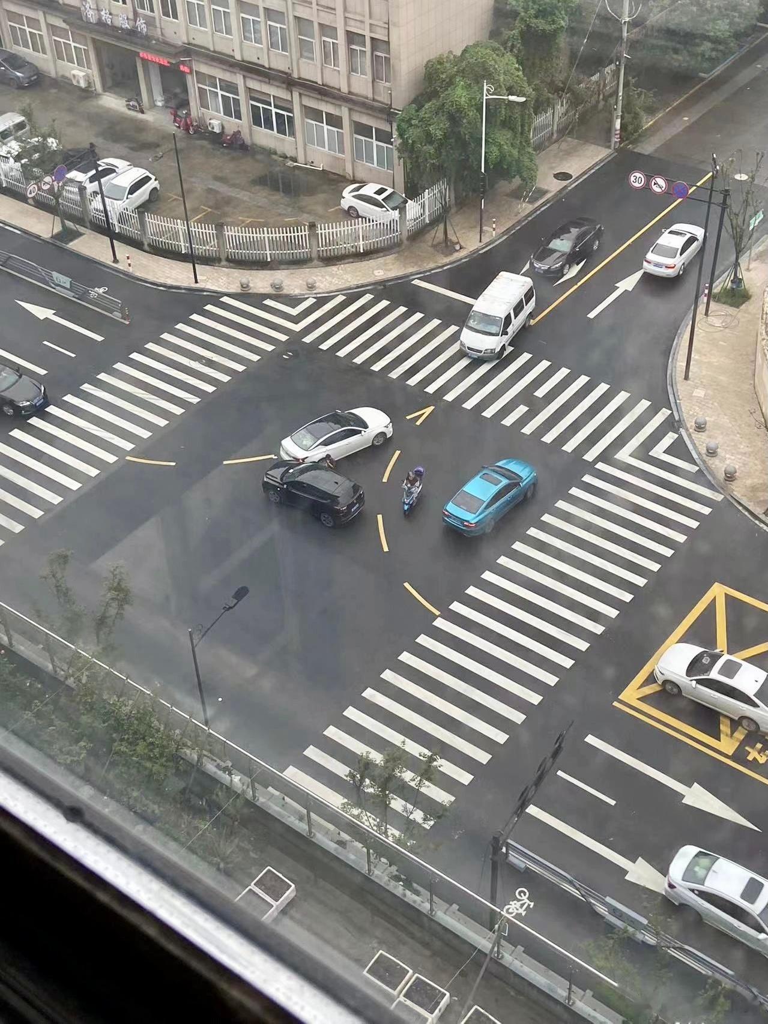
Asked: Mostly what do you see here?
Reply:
paved ground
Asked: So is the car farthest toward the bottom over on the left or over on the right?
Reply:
right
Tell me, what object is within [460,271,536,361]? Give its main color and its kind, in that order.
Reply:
white vehicle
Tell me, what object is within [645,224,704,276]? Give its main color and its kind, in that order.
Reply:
white car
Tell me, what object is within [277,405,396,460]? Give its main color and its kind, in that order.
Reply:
white car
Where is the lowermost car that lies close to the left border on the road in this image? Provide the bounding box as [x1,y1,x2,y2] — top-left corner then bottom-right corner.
[0,358,48,415]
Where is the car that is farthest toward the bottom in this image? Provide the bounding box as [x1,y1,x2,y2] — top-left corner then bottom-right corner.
[665,841,768,956]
